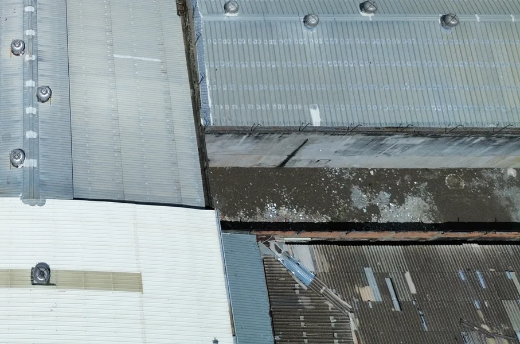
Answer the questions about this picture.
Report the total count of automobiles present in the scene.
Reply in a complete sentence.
No automobiles are visible.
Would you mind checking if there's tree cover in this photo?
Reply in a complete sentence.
No, the picture contains no tree cover.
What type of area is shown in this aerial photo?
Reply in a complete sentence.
This image shows an industrial area.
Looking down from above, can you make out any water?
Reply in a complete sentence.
No, water can't be seen anywhere here.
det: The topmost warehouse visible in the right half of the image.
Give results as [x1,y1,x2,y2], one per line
[185,0,520,171]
